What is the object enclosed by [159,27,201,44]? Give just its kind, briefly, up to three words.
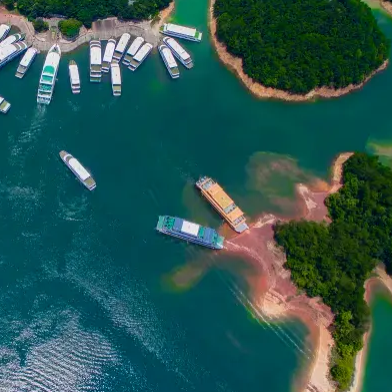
boat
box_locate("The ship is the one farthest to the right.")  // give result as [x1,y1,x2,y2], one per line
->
[196,176,248,233]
